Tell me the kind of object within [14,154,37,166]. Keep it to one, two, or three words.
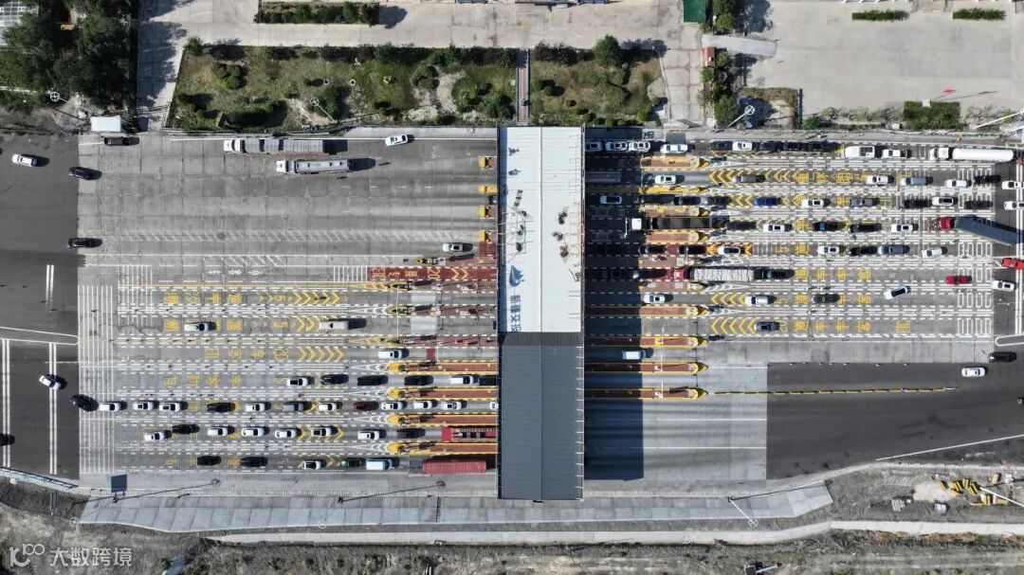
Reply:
vehicle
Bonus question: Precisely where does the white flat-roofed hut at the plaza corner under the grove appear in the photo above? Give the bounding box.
[91,116,130,135]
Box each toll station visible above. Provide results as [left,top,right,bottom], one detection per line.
[79,125,994,501]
